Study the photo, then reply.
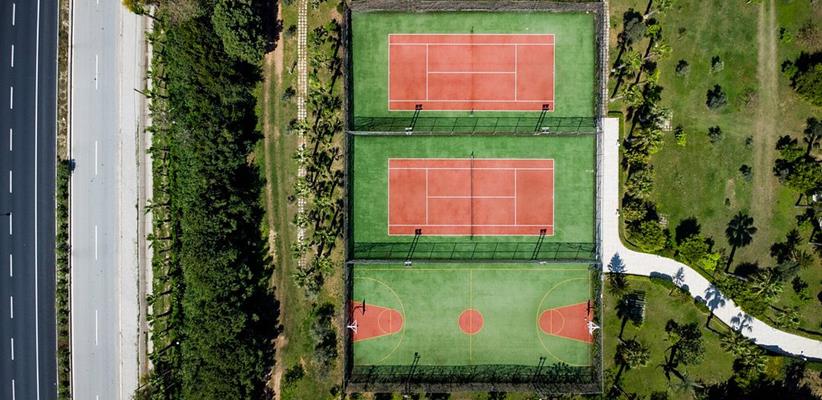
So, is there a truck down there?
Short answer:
No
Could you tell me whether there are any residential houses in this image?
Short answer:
No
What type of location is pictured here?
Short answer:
sports ground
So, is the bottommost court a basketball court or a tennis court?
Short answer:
basketball court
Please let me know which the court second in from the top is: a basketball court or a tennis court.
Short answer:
tennis court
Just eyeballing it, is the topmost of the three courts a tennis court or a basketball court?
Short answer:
tennis court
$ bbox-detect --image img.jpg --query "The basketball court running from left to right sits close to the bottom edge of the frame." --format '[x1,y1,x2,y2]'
[349,264,597,385]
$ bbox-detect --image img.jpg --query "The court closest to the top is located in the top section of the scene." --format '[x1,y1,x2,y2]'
[349,10,597,132]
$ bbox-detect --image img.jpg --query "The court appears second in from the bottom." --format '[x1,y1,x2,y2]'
[349,135,597,261]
